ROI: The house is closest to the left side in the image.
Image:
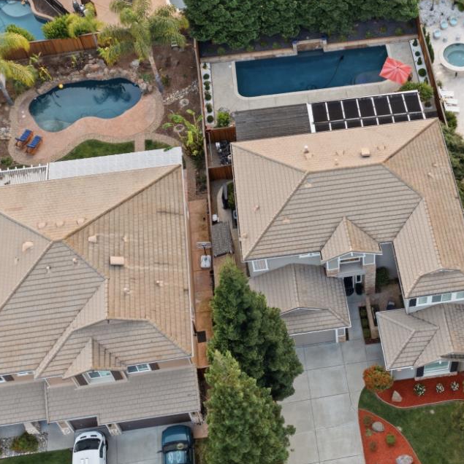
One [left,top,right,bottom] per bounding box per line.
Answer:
[0,165,201,433]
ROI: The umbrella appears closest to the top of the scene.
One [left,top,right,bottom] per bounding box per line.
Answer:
[376,52,419,90]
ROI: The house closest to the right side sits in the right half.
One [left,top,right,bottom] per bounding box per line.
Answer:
[231,118,464,384]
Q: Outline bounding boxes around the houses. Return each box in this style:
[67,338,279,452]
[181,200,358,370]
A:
[231,118,464,384]
[0,165,201,433]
